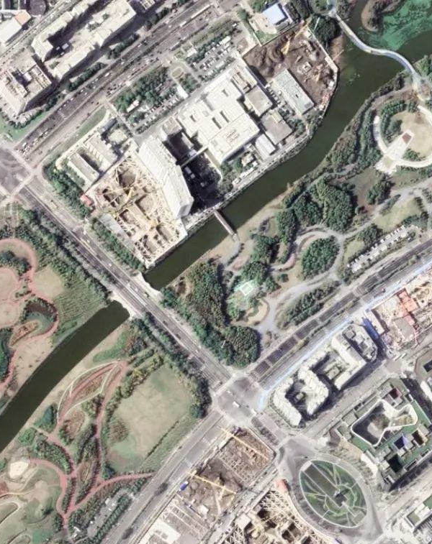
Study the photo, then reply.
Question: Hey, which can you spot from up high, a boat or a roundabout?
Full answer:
Visible in the photo is a roundabout.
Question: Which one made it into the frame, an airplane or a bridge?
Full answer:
The one in the frame is a bridge.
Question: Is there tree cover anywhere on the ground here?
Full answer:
Yes, some tree cover is visible.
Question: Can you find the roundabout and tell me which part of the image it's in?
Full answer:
You can find the roundabout in the bottom right area of the picture.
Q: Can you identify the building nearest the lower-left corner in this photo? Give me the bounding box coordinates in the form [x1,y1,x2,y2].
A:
[151,520,179,544]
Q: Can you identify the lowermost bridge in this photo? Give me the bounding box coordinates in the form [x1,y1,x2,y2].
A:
[97,257,174,328]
